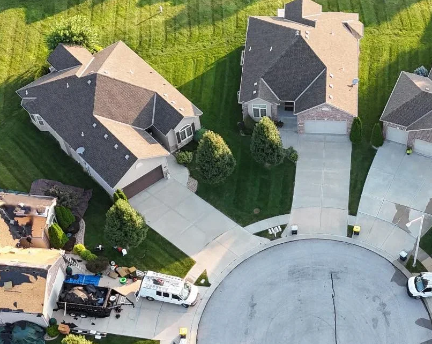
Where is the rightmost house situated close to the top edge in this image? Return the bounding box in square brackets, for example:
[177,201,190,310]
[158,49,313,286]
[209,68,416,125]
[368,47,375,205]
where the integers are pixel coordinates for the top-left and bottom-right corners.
[240,0,363,133]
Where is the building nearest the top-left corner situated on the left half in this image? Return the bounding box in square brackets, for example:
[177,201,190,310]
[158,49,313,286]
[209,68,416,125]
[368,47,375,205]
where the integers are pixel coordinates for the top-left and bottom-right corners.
[21,40,204,199]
